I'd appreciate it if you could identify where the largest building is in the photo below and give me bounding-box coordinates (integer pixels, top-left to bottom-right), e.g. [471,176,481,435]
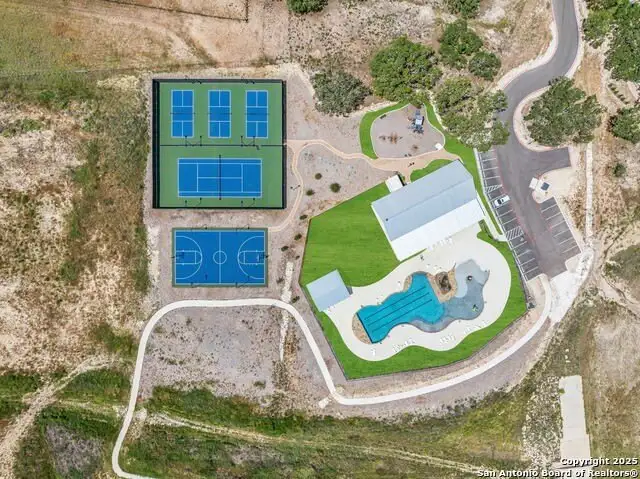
[371,159,488,261]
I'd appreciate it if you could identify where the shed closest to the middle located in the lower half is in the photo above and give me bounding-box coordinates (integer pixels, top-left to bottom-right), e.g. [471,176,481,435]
[306,270,351,312]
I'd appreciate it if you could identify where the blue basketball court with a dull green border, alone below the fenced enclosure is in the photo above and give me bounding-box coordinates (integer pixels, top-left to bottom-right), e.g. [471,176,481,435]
[172,228,268,286]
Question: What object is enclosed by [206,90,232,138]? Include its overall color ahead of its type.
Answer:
blue sports court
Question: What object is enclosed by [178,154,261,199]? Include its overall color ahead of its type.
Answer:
blue tennis court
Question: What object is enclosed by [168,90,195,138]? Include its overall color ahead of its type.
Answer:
blue sports court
